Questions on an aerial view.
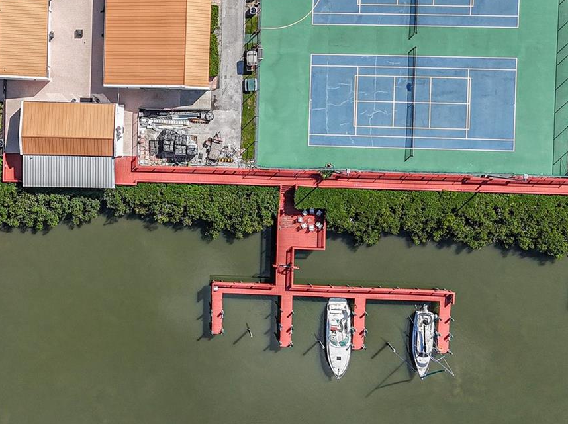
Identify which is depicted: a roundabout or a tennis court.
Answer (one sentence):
Of the two, only a tennis court appears.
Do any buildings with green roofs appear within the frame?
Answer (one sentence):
No, there's no building with a green roof here.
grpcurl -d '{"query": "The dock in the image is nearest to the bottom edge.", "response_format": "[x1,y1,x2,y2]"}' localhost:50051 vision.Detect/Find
[211,187,457,354]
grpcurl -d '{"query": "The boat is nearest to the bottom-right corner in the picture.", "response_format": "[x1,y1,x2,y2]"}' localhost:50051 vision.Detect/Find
[412,303,454,378]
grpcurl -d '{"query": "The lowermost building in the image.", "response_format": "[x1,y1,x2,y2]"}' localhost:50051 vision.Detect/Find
[19,100,123,188]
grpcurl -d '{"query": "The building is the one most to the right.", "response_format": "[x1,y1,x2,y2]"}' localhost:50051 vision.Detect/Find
[102,0,212,91]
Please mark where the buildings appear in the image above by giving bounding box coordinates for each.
[102,0,212,91]
[19,100,123,188]
[0,0,50,82]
